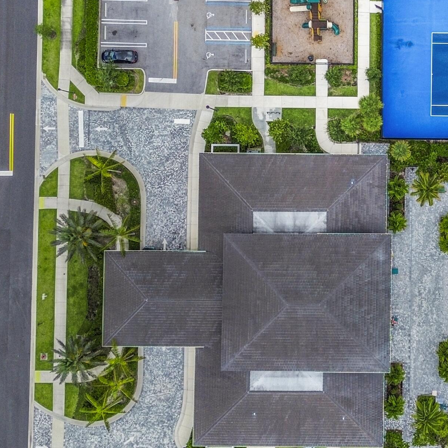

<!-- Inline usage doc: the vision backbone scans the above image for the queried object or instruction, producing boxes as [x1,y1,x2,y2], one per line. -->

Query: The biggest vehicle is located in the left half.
[100,47,137,64]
